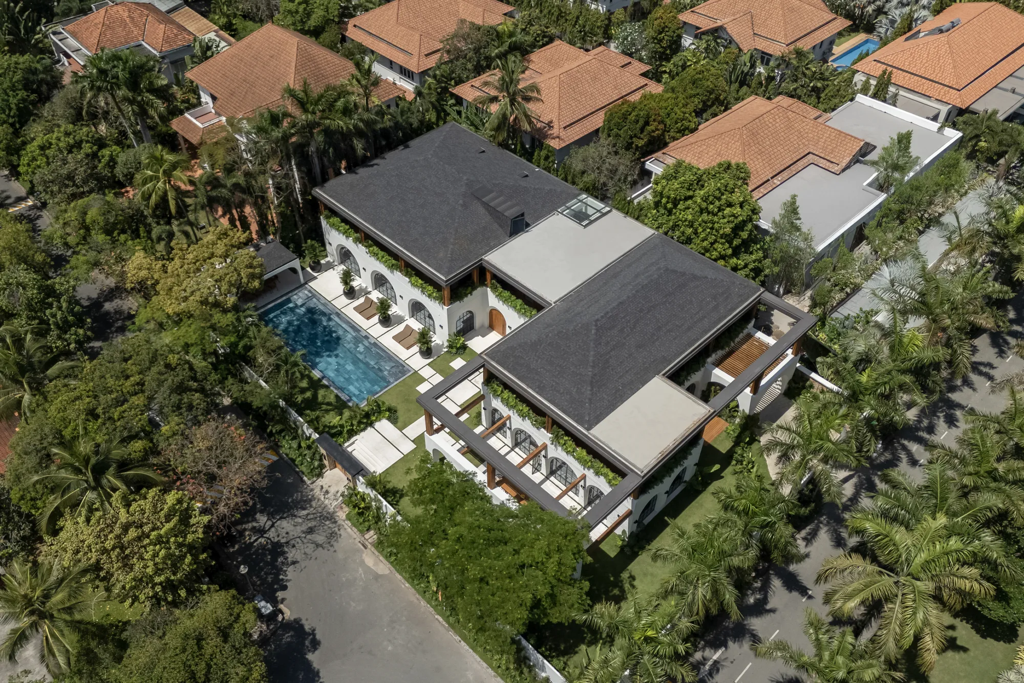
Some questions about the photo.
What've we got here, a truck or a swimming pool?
swimming pool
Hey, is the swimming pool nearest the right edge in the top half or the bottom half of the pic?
top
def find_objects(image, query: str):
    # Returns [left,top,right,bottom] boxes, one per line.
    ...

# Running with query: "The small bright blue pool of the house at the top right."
[827,32,881,74]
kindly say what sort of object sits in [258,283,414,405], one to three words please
swimming pool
